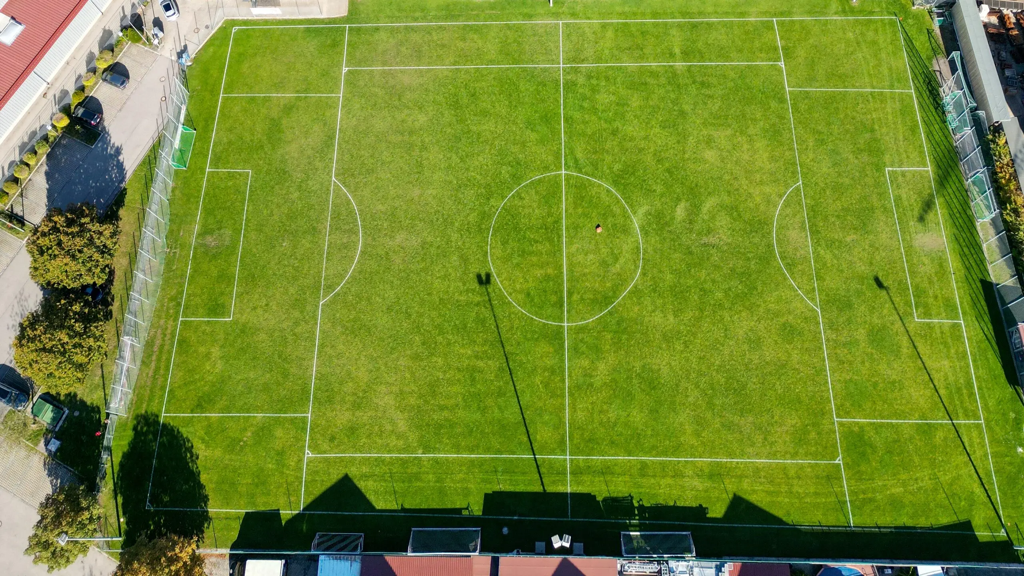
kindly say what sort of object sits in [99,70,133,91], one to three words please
car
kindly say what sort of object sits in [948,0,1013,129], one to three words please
shed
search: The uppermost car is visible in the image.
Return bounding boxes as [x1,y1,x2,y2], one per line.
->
[156,0,179,24]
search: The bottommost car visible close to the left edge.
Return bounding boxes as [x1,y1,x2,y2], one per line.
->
[0,379,33,407]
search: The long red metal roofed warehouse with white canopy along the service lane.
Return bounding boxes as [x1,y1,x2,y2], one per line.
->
[0,0,116,146]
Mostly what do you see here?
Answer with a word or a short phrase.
grass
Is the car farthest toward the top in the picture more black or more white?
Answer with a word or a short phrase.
white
